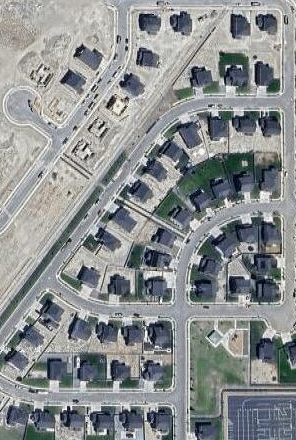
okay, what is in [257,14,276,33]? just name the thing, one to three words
house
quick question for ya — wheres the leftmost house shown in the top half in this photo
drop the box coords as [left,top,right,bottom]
[63,67,85,94]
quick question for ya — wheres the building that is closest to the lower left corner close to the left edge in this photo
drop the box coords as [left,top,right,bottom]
[7,404,28,427]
